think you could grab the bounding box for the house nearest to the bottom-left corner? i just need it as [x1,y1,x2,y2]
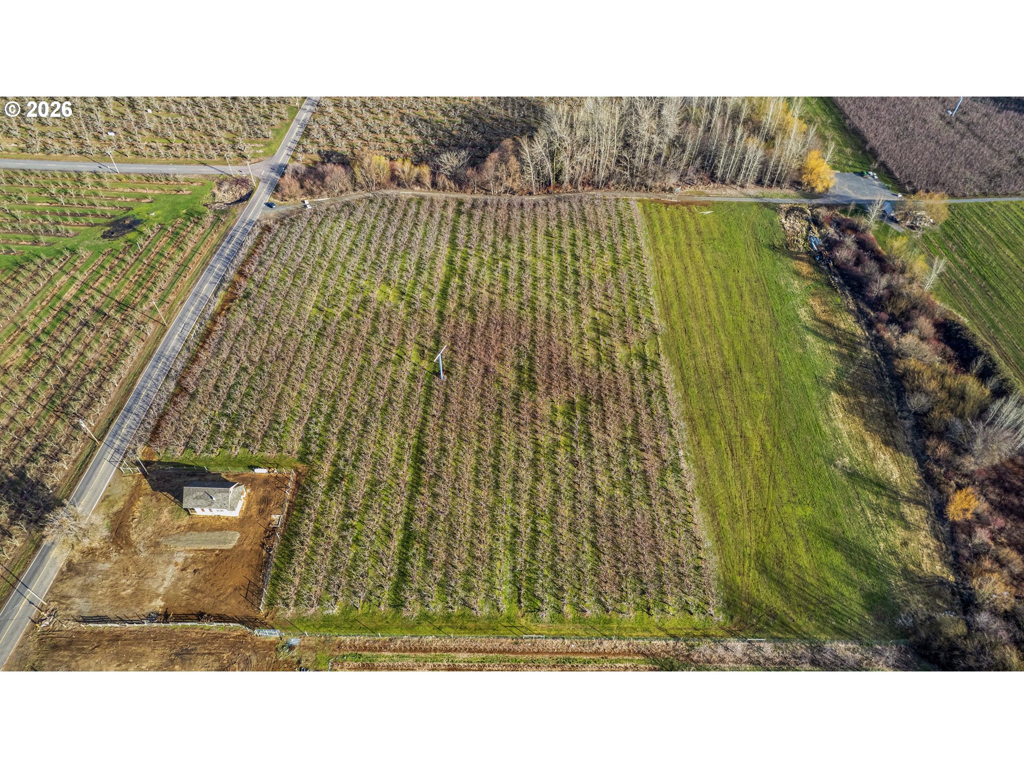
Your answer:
[182,479,251,516]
